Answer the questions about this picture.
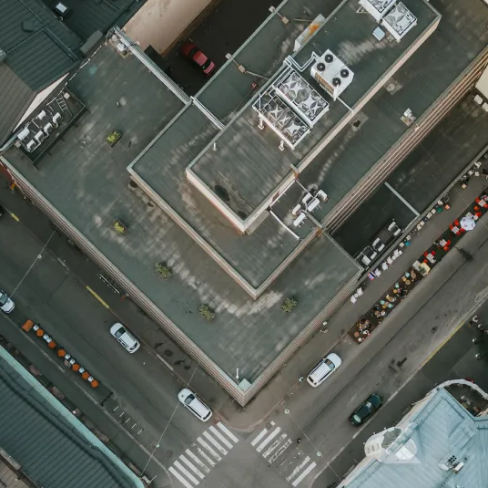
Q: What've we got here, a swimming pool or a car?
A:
car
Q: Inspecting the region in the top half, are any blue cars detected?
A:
No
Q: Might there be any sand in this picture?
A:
No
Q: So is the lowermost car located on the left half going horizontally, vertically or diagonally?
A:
diagonally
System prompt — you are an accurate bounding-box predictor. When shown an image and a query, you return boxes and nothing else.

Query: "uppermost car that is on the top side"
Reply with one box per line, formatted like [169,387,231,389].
[175,40,219,80]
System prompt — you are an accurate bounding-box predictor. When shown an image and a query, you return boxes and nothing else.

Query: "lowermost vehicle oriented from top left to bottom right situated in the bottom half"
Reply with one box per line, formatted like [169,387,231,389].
[174,385,216,425]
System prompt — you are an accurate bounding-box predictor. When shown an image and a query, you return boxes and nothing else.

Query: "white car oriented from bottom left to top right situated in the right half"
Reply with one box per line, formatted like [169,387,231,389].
[302,349,345,391]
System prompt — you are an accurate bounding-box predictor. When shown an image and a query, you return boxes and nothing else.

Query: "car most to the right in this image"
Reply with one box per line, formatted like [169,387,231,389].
[345,389,386,430]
